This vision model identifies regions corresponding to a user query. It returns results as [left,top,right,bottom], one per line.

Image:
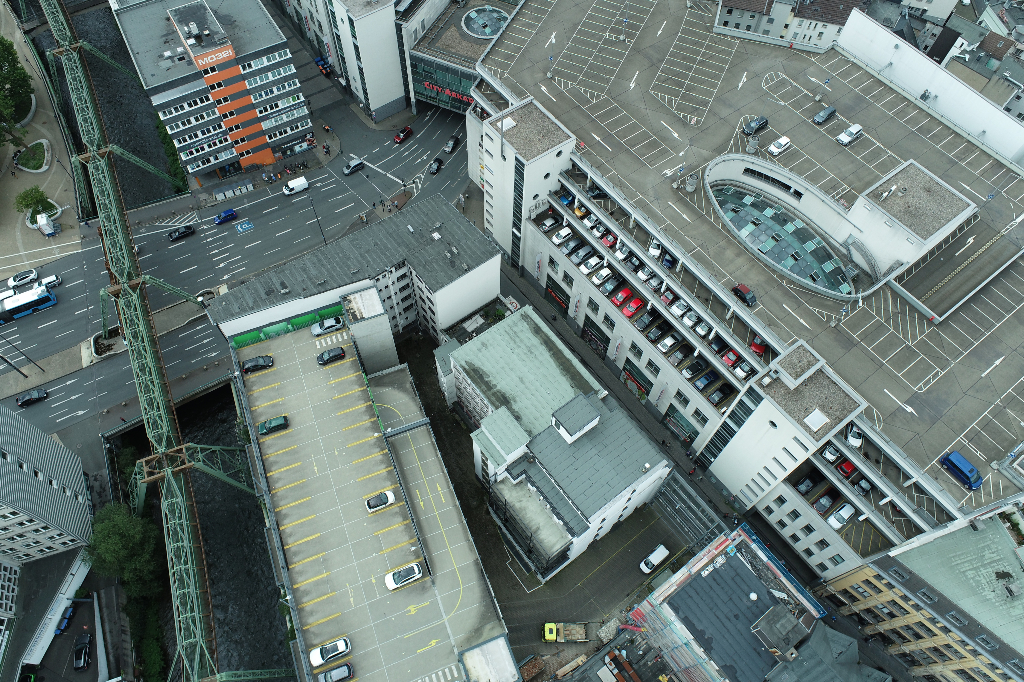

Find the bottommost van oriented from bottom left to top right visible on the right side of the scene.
[638,542,674,575]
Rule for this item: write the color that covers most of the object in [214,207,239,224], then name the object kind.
blue car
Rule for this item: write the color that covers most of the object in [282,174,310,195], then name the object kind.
white vehicle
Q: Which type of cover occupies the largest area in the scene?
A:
buildings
